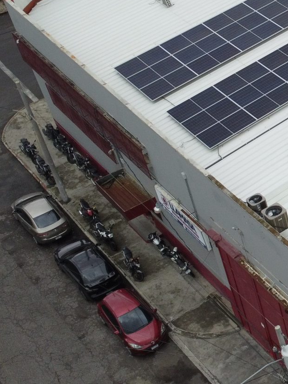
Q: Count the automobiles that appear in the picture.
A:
three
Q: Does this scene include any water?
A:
No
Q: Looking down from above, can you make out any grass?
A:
No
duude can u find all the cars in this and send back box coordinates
[3,188,78,250]
[52,236,132,305]
[94,286,177,363]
